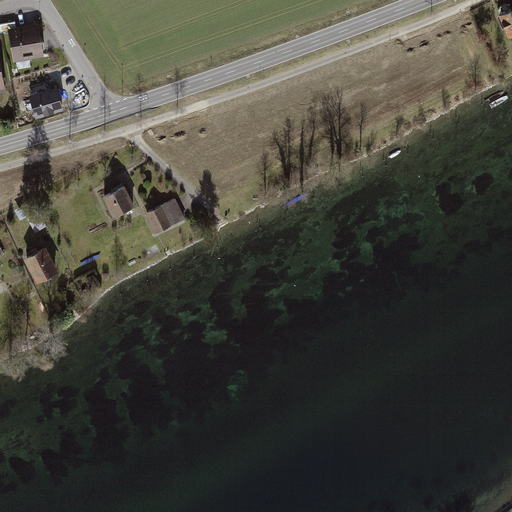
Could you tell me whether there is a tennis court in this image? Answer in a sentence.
No, this view has no tennis court in it.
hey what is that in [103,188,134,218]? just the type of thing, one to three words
house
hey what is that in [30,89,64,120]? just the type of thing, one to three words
house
